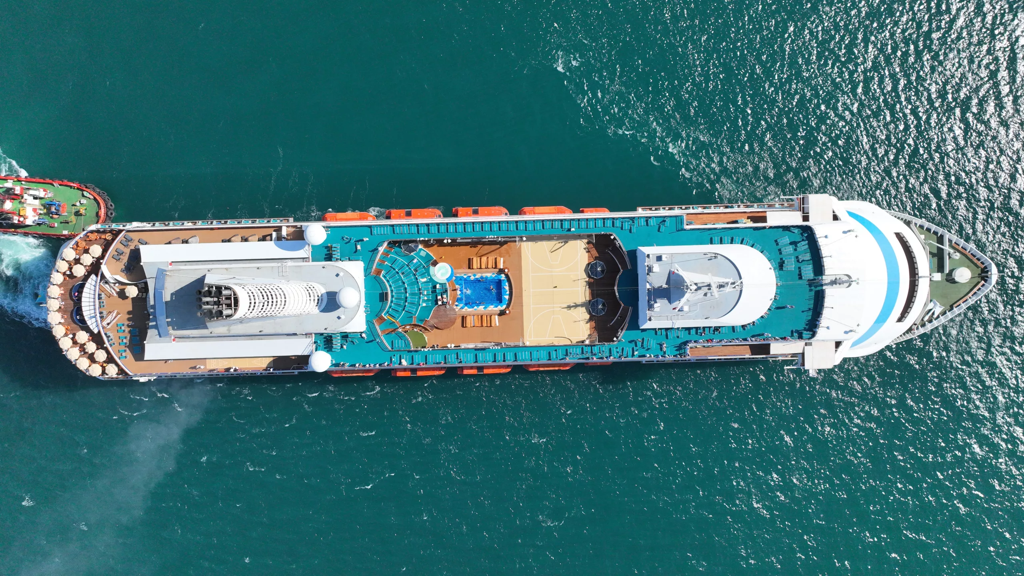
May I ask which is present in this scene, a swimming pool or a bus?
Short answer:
swimming pool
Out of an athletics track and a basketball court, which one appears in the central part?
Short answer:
basketball court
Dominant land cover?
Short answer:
water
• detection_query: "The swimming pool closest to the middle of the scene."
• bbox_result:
[451,268,515,316]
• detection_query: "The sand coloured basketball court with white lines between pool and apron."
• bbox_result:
[521,240,590,344]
